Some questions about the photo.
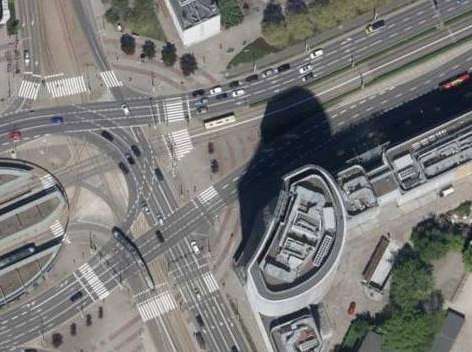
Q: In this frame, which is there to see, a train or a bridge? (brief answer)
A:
train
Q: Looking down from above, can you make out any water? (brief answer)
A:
No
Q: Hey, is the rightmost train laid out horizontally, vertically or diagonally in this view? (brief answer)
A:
diagonally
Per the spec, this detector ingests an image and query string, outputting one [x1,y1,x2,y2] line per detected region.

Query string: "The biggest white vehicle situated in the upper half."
[205,117,236,131]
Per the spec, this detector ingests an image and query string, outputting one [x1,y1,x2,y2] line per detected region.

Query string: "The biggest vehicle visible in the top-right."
[441,76,470,94]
